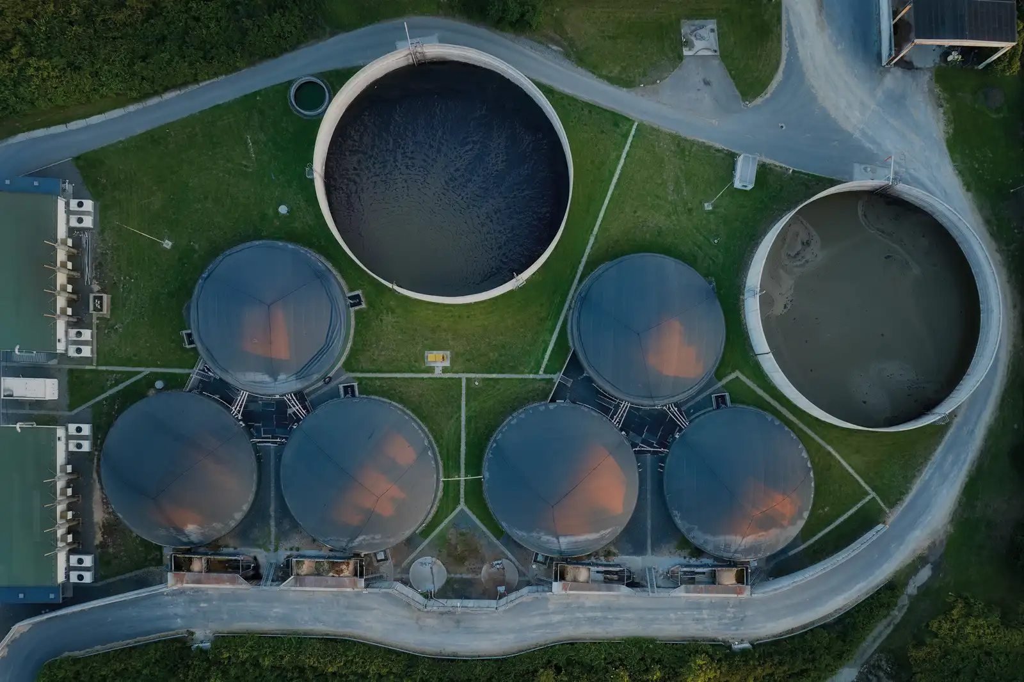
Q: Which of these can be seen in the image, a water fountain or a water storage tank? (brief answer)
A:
water storage tank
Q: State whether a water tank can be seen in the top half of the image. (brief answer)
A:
Yes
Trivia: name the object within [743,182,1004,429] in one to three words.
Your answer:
storage tank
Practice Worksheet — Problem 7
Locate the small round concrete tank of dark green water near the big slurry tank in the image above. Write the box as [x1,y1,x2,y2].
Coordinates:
[292,79,333,120]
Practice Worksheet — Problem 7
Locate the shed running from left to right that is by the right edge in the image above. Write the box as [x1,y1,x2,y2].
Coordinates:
[880,0,1023,66]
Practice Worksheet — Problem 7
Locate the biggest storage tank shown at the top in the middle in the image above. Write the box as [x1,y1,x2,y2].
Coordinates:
[313,44,572,304]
